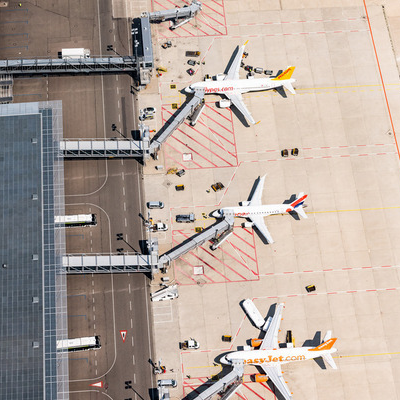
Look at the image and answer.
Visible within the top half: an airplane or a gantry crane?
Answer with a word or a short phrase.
airplane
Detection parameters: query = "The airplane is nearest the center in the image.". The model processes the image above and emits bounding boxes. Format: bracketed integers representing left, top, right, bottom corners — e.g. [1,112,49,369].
[213,172,306,242]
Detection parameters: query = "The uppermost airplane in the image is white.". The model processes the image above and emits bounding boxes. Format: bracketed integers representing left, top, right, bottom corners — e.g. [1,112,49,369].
[189,38,299,124]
